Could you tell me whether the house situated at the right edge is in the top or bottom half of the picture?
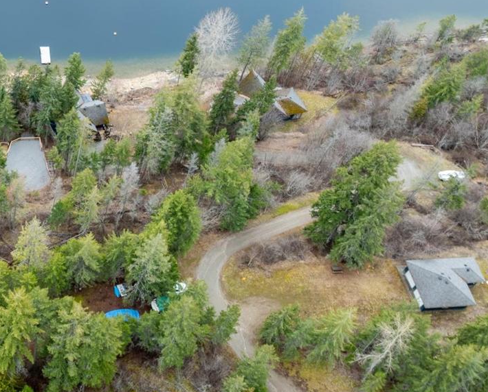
bottom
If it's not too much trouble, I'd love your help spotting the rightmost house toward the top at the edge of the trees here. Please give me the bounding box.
[276,90,307,124]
